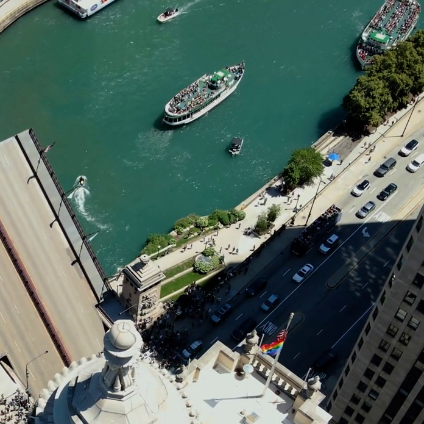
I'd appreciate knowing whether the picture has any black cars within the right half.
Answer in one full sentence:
Yes, a black car shows up within the right half.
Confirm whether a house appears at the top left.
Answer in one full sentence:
No, no house is visible at the top left.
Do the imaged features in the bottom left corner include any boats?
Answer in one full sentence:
No, the scene shows no boat in the bottom left corner.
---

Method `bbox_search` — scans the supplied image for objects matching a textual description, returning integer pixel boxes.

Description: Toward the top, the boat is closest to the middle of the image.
[226,131,245,158]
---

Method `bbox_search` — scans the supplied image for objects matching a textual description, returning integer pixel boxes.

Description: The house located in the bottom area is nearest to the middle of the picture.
[117,255,168,328]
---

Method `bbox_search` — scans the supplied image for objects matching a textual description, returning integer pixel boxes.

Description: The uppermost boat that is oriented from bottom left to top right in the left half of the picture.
[158,6,181,23]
